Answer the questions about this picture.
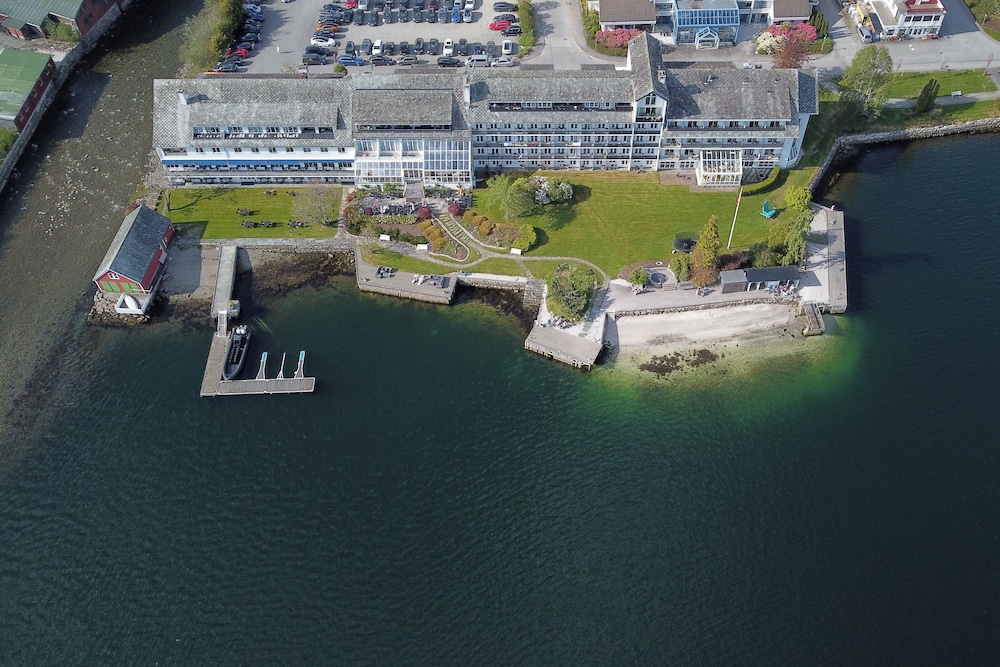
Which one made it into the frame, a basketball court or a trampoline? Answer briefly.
trampoline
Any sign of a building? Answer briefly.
Yes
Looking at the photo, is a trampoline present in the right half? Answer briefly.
Yes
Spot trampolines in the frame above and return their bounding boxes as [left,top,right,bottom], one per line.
[673,230,700,256]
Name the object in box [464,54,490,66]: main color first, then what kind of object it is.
gray vehicle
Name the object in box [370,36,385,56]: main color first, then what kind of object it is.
white vehicle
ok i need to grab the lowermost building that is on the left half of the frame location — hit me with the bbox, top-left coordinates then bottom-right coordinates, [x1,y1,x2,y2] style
[89,201,175,300]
